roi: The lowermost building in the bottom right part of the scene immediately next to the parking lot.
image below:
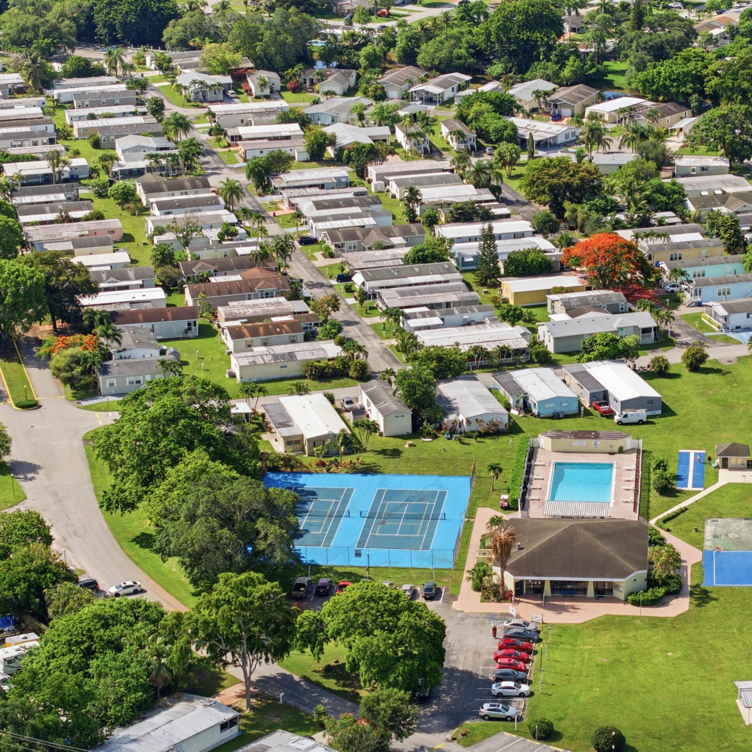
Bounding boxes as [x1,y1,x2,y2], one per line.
[479,519,649,598]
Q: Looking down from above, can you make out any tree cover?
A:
Yes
